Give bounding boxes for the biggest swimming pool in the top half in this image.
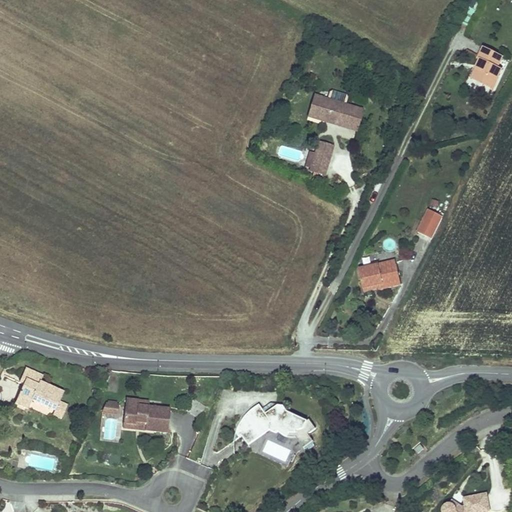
[278,146,308,166]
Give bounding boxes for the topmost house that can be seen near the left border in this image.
[16,366,68,418]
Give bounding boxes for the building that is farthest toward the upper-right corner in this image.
[471,45,504,92]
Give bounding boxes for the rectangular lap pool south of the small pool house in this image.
[100,412,121,442]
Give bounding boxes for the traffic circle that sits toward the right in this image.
[368,360,428,422]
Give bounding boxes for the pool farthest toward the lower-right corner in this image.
[262,440,292,462]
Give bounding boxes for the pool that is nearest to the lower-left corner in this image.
[18,450,59,474]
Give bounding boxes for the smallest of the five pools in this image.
[382,238,396,252]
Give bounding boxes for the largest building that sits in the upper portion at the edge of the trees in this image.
[308,89,364,133]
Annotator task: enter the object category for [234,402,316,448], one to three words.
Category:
house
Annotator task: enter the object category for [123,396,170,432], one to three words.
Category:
house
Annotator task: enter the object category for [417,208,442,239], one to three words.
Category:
barn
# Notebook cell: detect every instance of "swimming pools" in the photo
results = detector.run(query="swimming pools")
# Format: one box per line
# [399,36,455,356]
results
[262,440,292,462]
[382,238,396,252]
[18,450,59,474]
[100,412,121,442]
[278,146,308,166]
